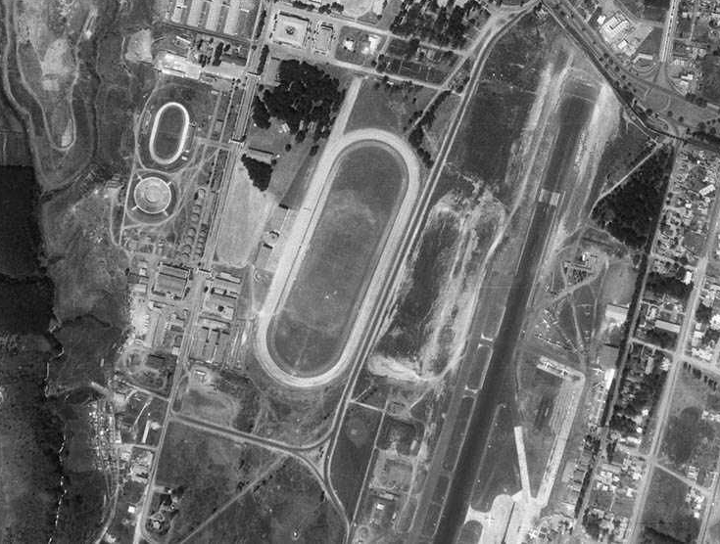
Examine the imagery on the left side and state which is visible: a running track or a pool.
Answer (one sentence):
There is a running track on the left side.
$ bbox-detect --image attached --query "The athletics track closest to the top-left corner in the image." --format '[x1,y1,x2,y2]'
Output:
[150,102,189,164]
